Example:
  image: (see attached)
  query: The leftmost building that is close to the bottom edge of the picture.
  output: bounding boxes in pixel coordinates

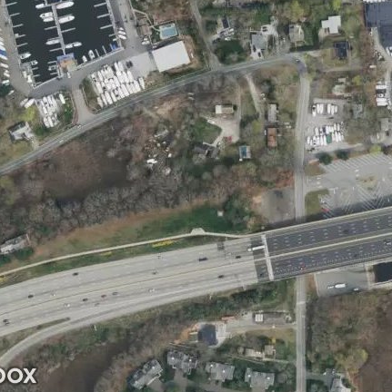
[131,360,163,390]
